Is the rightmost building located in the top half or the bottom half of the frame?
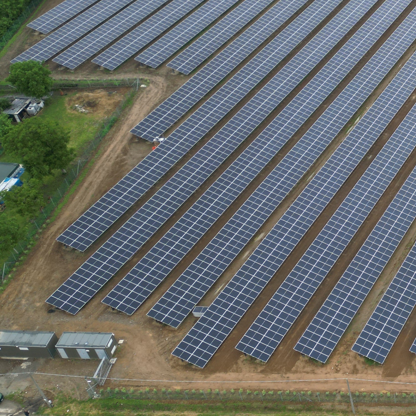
bottom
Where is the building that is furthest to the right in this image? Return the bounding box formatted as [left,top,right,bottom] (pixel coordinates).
[55,332,119,360]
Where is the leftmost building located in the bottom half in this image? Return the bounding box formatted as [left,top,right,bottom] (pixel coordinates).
[0,330,58,359]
